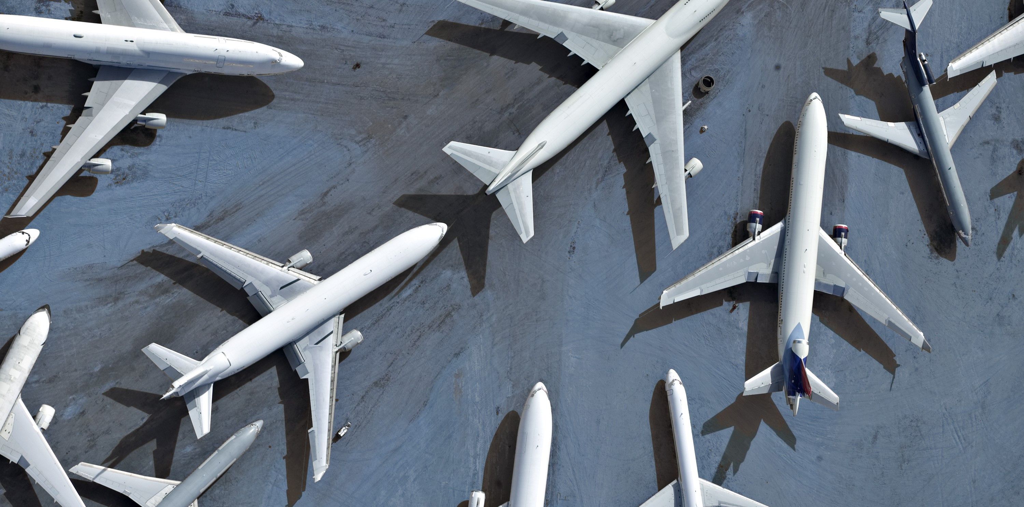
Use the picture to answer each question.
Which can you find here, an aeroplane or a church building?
aeroplane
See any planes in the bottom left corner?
Yes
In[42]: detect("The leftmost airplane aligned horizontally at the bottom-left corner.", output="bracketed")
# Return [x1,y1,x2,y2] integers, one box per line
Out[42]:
[69,420,264,507]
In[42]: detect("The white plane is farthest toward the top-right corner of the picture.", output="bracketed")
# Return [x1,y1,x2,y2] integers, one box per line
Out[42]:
[946,11,1024,79]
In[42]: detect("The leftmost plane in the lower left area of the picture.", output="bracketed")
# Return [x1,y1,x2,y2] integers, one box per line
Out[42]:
[0,304,85,507]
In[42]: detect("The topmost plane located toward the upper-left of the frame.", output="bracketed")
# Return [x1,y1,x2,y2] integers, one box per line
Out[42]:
[0,0,304,221]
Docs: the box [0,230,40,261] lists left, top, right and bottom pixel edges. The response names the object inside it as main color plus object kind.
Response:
white airplane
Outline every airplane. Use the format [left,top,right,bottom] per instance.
[0,230,40,261]
[442,0,735,256]
[142,223,447,484]
[657,92,929,416]
[946,11,1024,79]
[69,420,264,507]
[0,304,85,507]
[838,0,997,246]
[639,369,767,507]
[0,0,304,221]
[502,382,551,507]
